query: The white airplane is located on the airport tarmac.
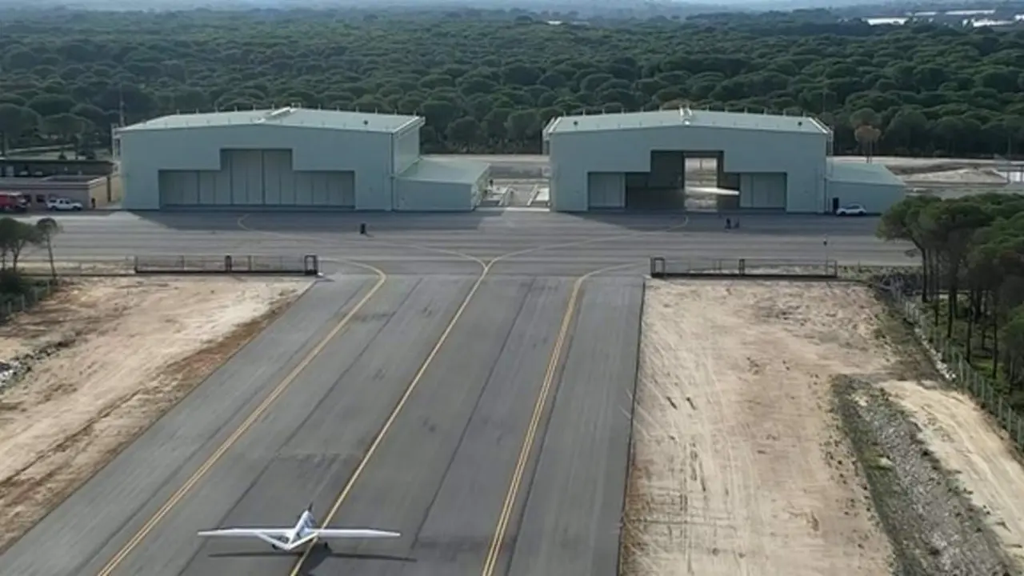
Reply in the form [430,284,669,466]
[197,501,399,551]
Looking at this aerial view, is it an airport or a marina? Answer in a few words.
airport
